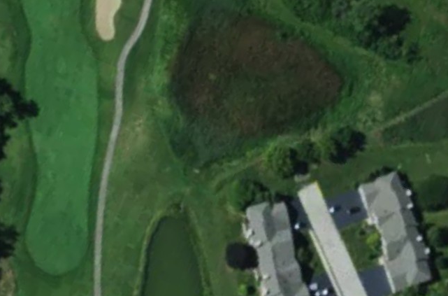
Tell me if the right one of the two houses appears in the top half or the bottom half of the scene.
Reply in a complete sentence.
You can find the right one of the two houses in the bottom half.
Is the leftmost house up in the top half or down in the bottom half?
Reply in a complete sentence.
The bottom half of the photo is where the leftmost house is.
